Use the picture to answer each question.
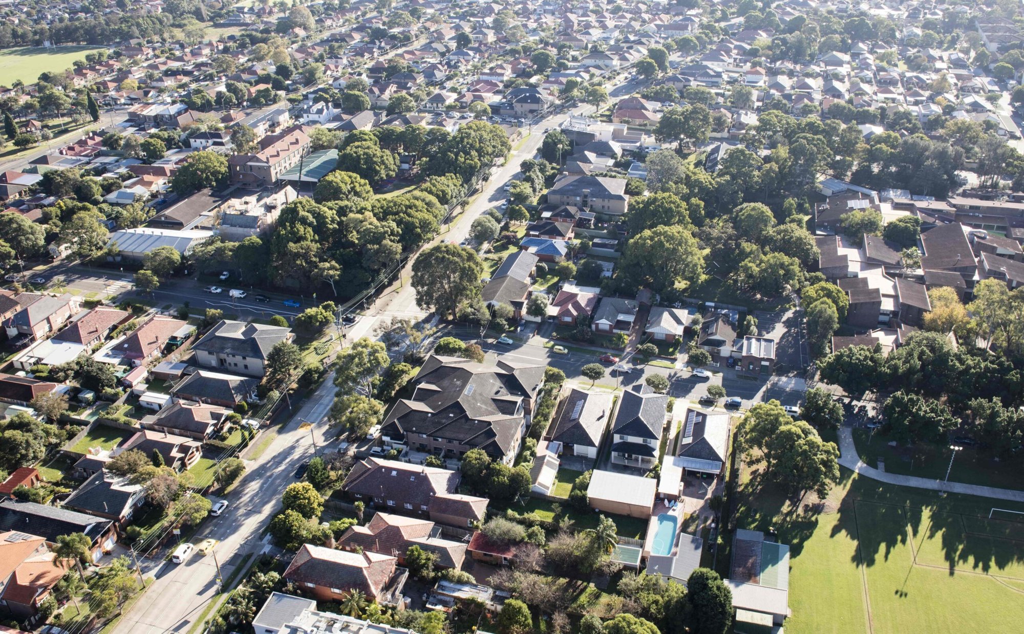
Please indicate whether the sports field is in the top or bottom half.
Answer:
bottom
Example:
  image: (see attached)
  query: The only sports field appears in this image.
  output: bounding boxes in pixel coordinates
[710,416,1024,634]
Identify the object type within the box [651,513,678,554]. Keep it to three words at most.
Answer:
swimming pool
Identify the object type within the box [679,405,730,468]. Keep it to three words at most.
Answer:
house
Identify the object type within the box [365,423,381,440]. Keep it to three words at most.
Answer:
vehicle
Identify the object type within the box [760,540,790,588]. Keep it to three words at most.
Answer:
shed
